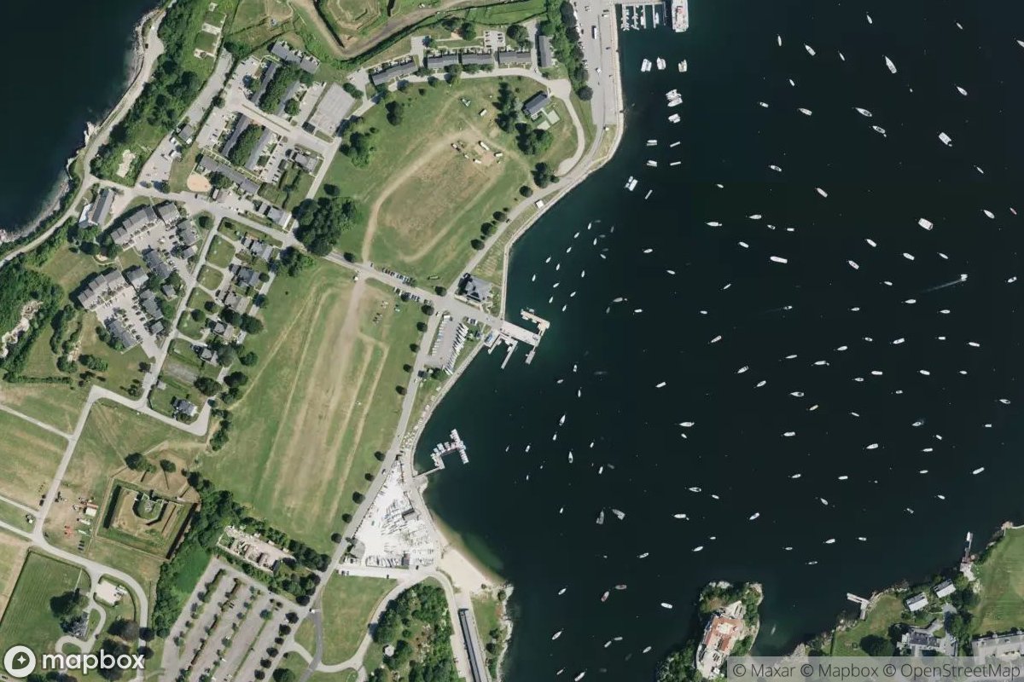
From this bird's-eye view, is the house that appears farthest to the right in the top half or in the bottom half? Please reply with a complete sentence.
The house that appears farthest to the right sits in the bottom half of the picture.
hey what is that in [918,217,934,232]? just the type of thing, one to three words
boat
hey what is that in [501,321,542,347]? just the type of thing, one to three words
pier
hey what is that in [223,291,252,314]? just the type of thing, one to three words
house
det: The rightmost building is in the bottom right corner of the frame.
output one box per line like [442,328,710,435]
[972,630,1024,676]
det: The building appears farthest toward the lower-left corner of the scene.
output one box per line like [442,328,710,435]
[63,615,89,636]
